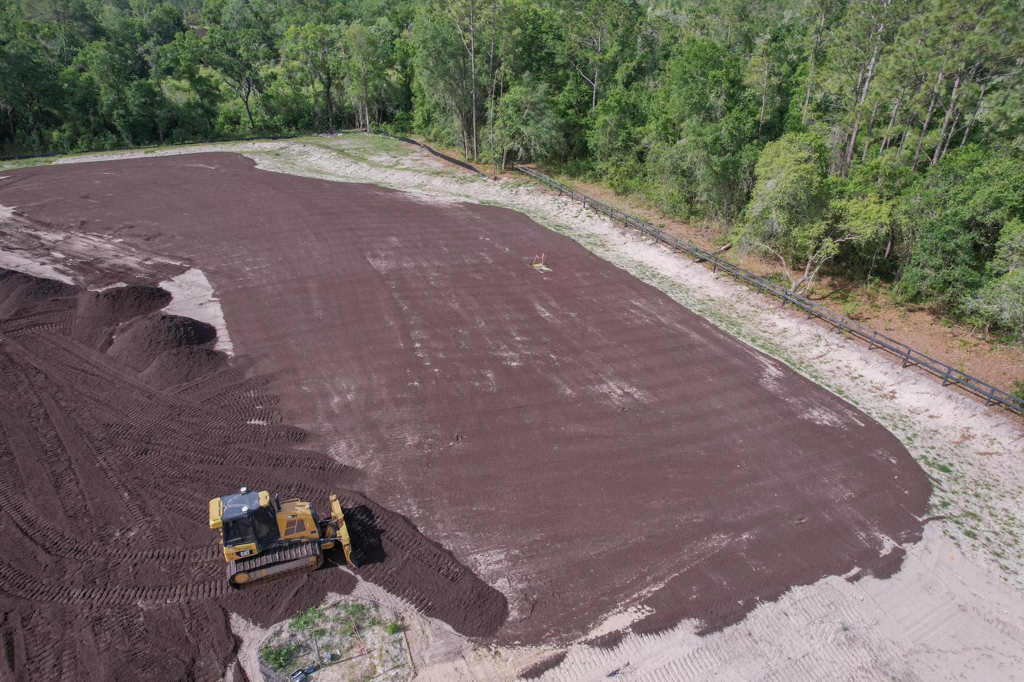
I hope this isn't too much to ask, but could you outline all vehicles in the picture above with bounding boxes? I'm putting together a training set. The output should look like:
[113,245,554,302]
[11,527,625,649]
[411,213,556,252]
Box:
[212,491,365,591]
